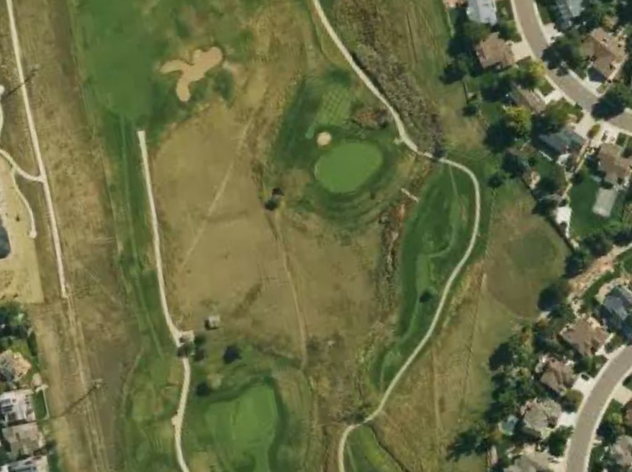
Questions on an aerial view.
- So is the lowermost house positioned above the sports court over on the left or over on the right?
right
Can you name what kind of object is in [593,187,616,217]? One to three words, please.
sports court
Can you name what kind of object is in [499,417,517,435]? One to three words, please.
swimming pool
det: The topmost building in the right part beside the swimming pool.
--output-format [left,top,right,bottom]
[515,394,565,439]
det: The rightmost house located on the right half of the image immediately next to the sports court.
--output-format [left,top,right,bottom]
[593,145,632,188]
